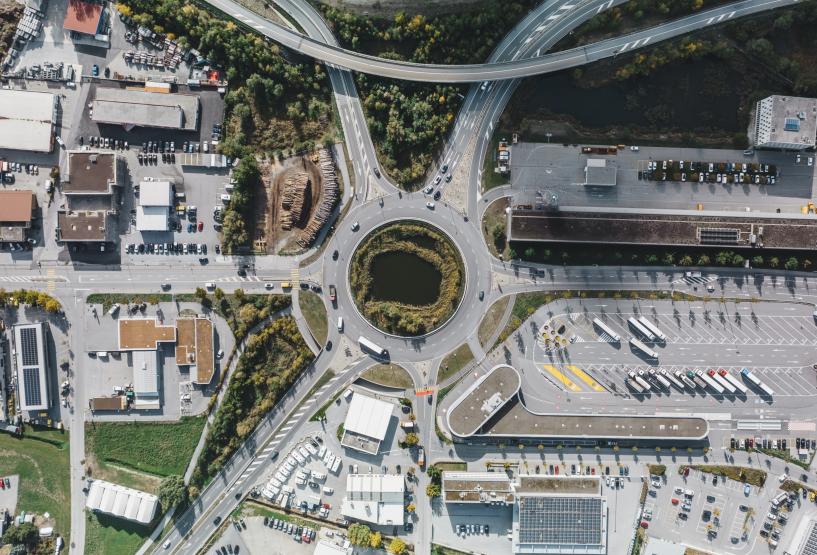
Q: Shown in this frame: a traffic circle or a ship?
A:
traffic circle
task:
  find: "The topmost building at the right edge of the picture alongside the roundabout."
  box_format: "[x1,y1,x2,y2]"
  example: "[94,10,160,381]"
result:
[509,210,817,250]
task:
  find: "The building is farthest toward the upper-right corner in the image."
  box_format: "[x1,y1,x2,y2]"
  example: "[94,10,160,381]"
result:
[756,96,817,148]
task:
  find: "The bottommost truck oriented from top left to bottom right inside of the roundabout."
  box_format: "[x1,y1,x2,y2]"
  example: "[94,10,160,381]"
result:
[358,335,391,359]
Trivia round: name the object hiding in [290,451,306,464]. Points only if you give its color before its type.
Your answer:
white vehicle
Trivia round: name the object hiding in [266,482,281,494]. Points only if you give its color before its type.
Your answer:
white vehicle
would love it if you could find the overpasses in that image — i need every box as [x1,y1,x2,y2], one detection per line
[204,0,804,84]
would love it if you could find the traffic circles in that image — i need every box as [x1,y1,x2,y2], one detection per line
[299,91,536,388]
